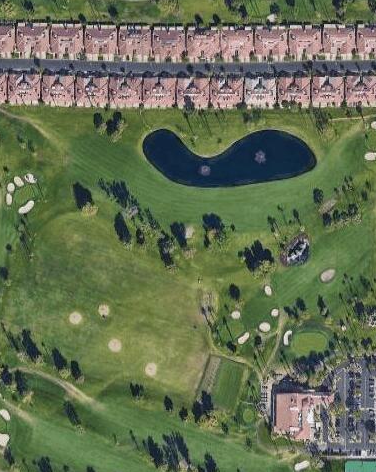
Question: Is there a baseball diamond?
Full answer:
No, there is no baseball diamond in the image.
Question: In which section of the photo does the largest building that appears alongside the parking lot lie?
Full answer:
The largest building that appears alongside the parking lot appears toward the bottom right of the photo.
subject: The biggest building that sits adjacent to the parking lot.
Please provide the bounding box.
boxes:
[262,376,336,441]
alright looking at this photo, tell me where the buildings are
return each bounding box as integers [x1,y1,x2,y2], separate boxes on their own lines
[51,24,82,59]
[42,75,74,106]
[76,76,108,106]
[144,75,175,106]
[9,75,41,106]
[356,24,376,59]
[0,24,15,59]
[84,24,116,59]
[255,24,287,59]
[277,76,310,106]
[345,76,376,106]
[17,24,49,59]
[221,24,253,59]
[109,76,142,106]
[289,24,321,59]
[323,24,355,59]
[312,75,344,106]
[262,376,336,441]
[152,24,185,59]
[118,24,150,59]
[244,75,276,106]
[211,75,242,106]
[177,75,209,106]
[187,24,219,59]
